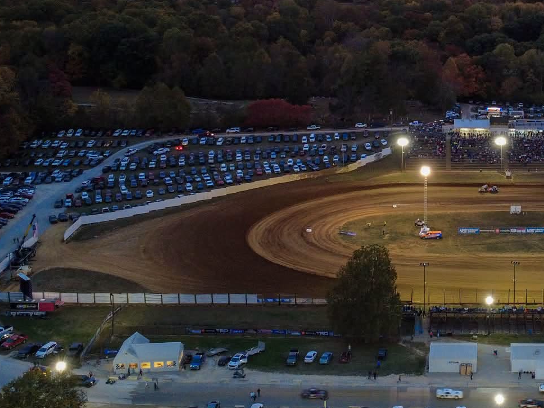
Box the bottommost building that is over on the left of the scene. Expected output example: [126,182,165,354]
[114,327,194,374]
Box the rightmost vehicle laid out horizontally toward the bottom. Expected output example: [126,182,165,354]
[518,396,544,408]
